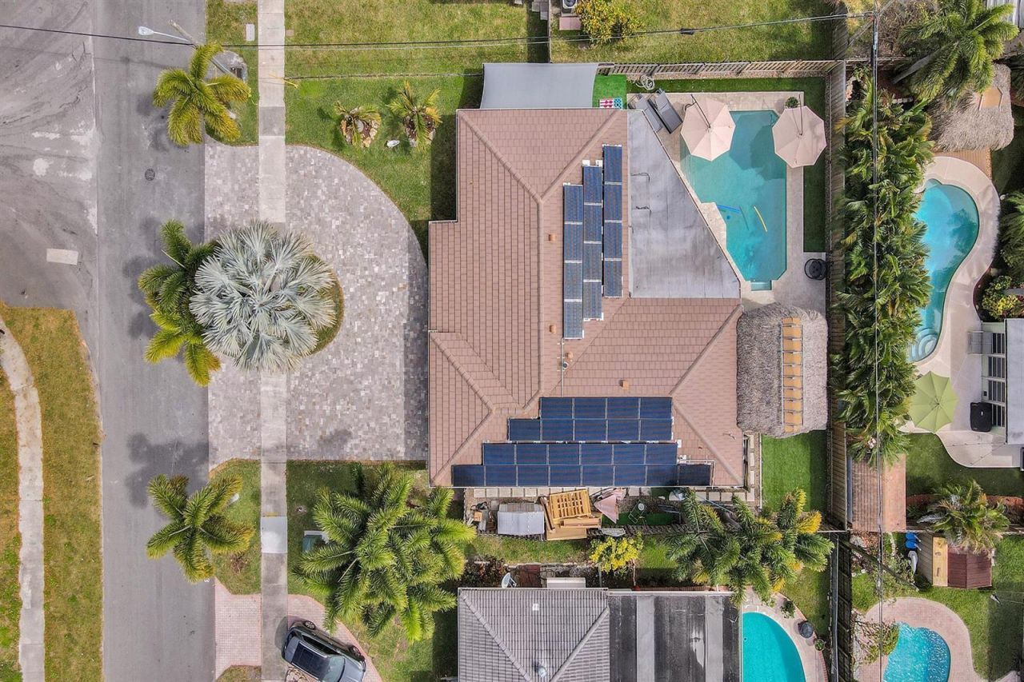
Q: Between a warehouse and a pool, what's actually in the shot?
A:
pool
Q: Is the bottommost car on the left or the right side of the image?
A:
left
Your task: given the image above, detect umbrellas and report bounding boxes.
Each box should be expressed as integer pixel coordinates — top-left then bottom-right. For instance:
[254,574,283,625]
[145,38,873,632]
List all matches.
[674,94,734,157]
[902,371,962,434]
[590,489,626,523]
[767,90,824,166]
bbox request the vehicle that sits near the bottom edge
[277,618,369,682]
